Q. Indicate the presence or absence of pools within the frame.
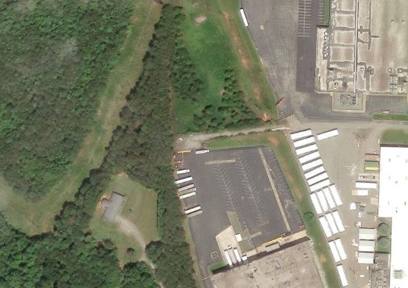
No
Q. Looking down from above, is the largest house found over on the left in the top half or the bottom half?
bottom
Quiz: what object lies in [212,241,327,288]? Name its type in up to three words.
building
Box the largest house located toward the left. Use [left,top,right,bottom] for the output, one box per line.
[103,193,126,223]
